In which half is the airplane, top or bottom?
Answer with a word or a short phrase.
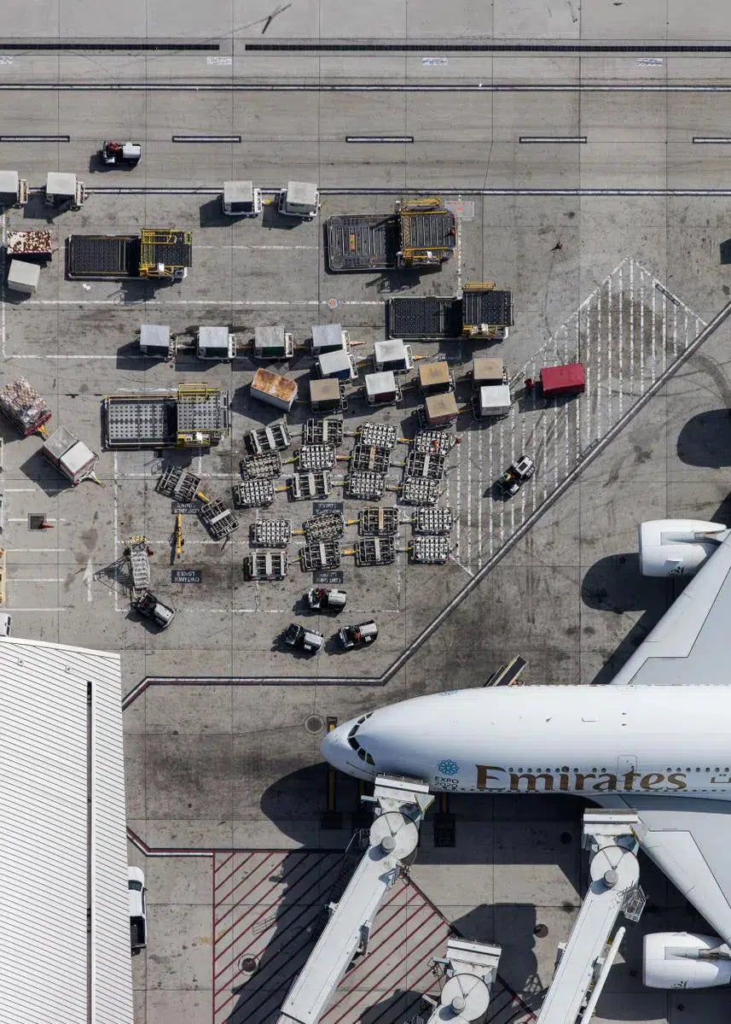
bottom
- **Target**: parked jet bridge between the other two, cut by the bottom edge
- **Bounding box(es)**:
[421,940,501,1024]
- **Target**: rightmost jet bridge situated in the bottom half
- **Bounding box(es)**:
[526,810,646,1024]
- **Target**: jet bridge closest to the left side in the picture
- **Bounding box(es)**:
[276,776,434,1024]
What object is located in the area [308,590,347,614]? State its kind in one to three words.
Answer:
work vehicle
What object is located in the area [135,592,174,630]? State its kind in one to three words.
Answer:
work vehicle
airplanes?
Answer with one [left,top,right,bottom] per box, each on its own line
[321,518,731,990]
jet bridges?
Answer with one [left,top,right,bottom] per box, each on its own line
[421,940,501,1024]
[526,810,646,1024]
[276,776,434,1024]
